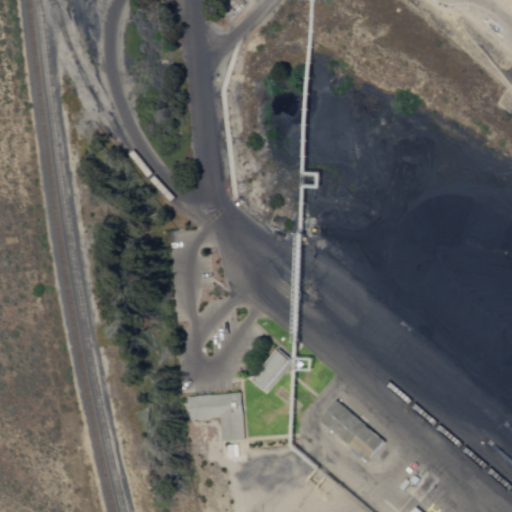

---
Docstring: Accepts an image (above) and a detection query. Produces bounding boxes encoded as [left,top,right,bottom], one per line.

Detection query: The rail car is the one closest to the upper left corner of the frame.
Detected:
[130,152,152,176]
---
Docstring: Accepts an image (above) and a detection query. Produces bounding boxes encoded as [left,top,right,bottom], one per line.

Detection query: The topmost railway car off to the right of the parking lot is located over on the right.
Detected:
[386,381,412,405]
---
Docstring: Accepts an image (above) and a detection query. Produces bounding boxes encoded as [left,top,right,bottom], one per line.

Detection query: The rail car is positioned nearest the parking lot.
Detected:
[151,176,174,200]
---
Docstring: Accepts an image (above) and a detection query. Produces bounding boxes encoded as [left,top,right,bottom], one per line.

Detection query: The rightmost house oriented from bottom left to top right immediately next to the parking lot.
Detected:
[254,350,290,392]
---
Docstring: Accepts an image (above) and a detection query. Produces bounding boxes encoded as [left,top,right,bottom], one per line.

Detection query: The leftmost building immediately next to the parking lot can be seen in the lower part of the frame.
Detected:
[188,393,245,441]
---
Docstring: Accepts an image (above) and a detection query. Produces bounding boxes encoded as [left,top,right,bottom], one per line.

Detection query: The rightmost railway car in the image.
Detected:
[487,468,512,492]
